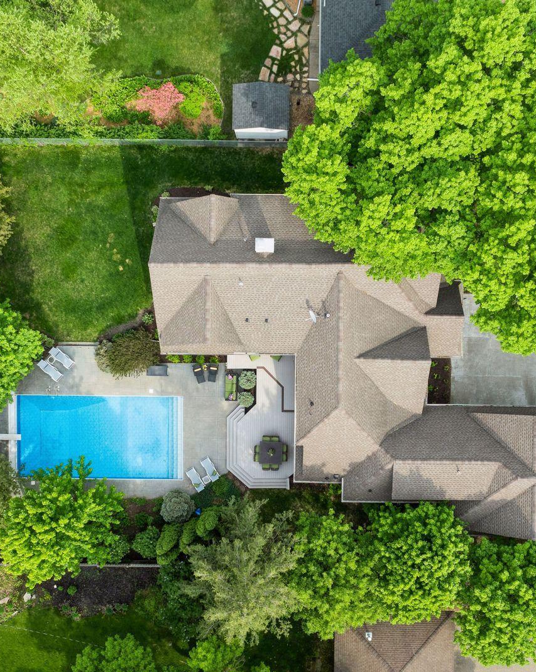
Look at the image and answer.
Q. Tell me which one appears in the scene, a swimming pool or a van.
swimming pool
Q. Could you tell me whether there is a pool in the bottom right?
No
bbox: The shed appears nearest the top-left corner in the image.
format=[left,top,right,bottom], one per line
[232,82,290,139]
